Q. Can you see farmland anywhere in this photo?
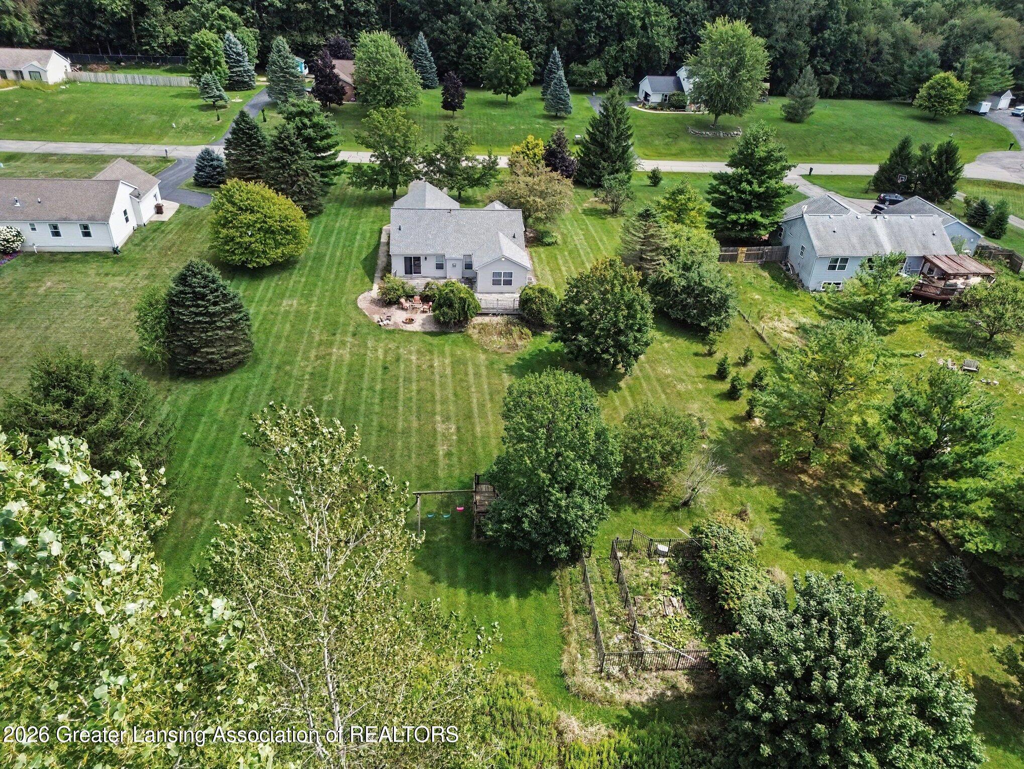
No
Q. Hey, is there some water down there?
No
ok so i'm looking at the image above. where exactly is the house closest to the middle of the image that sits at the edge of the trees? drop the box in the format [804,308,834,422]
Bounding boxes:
[388,183,532,292]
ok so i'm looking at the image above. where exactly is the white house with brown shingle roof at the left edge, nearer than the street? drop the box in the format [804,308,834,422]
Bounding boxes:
[0,156,167,254]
